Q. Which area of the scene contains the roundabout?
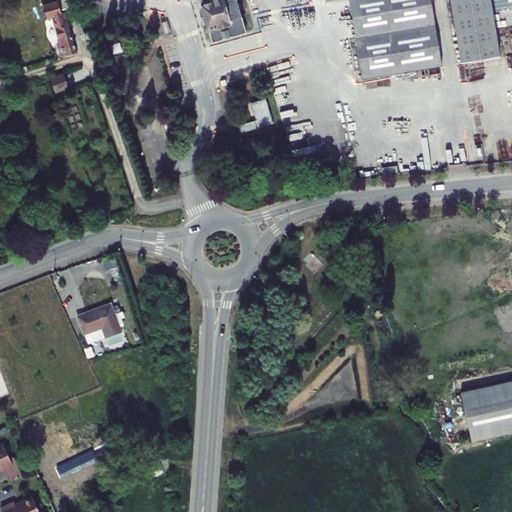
center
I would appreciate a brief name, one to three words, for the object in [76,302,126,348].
house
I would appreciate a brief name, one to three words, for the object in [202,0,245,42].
building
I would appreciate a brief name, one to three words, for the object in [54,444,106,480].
shed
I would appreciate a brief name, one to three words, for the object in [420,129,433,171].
vehicle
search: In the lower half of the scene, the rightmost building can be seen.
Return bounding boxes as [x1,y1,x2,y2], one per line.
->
[462,380,512,444]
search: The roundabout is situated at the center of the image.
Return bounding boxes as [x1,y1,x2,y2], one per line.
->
[152,201,288,325]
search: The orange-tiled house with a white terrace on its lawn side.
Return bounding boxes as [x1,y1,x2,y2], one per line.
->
[41,0,76,58]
